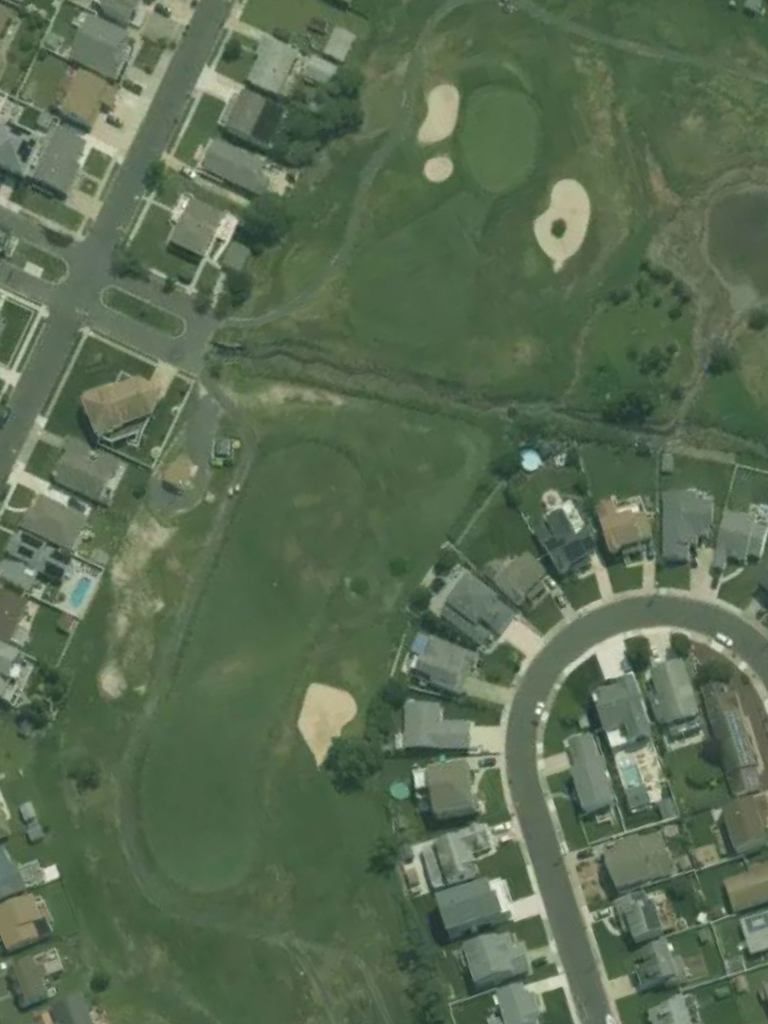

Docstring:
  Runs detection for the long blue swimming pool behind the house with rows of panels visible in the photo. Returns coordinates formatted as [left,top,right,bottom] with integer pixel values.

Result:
[69,574,95,609]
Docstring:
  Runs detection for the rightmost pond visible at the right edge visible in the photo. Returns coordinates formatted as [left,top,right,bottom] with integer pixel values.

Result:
[705,183,768,302]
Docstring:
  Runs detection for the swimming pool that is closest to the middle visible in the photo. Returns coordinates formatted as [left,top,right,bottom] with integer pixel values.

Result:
[520,449,542,470]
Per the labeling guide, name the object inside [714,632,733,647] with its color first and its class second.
white vehicle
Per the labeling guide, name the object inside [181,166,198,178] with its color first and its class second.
white vehicle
